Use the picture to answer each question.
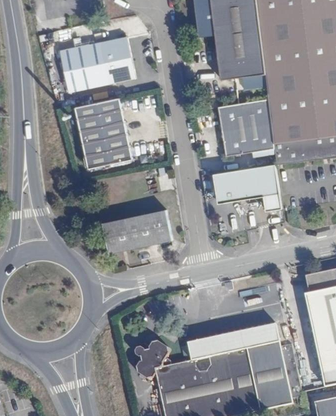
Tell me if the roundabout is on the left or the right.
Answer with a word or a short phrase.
left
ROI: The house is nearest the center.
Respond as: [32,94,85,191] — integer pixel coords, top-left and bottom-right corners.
[102,209,174,252]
